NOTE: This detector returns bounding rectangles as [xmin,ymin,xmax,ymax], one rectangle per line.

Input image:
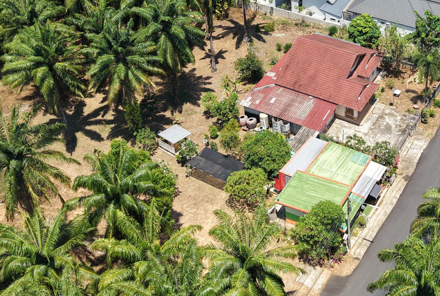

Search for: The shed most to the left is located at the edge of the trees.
[154,121,192,156]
